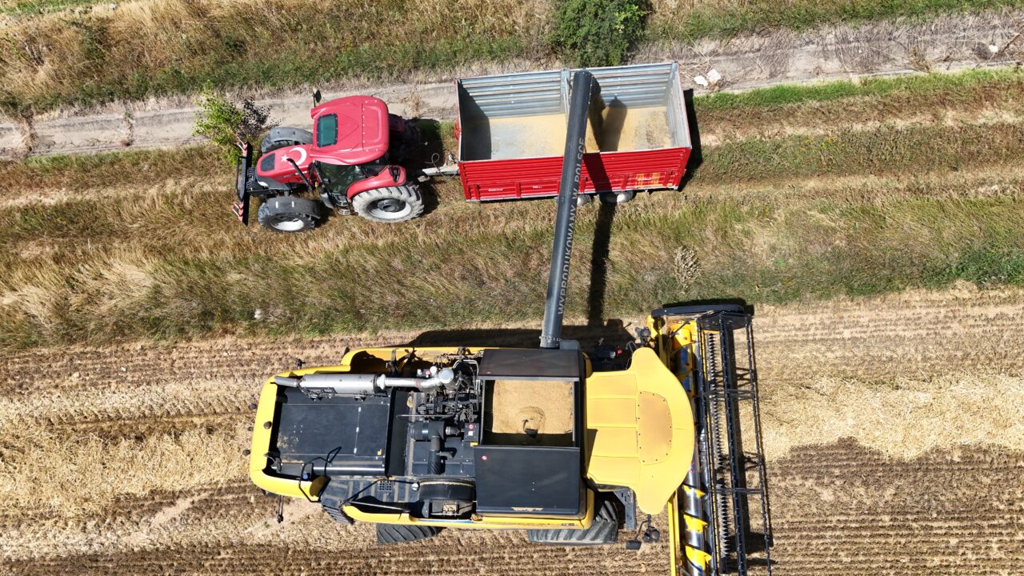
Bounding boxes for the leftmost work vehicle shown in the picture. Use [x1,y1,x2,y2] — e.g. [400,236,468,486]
[232,88,434,233]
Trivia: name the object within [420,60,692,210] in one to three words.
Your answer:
trailer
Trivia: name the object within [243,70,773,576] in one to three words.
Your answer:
work vehicle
